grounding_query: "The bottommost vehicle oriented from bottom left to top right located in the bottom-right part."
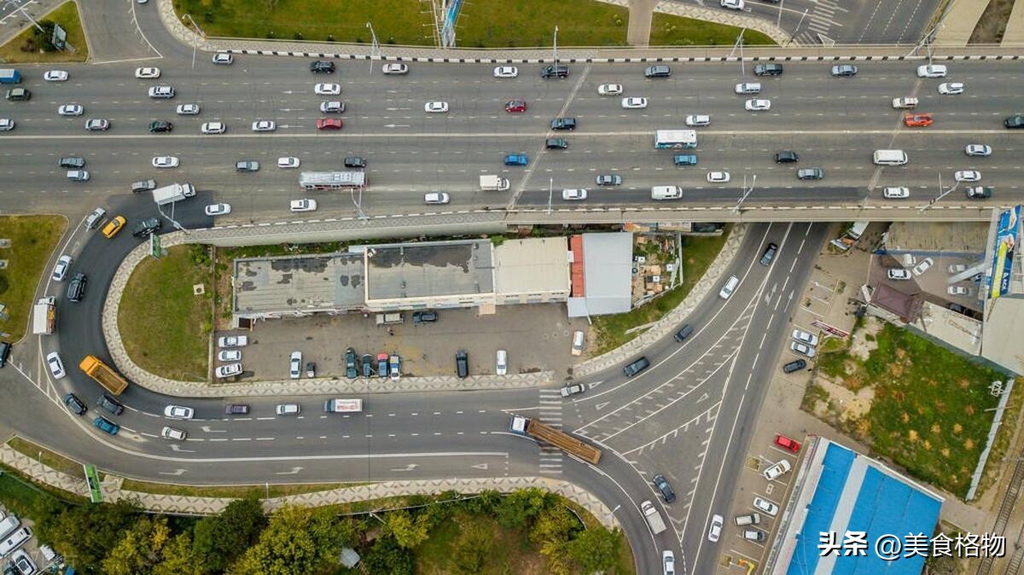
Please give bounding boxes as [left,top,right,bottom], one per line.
[762,459,791,481]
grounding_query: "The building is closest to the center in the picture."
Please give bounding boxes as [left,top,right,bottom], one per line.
[496,236,570,306]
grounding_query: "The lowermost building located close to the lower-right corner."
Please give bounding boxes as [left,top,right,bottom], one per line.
[756,436,945,575]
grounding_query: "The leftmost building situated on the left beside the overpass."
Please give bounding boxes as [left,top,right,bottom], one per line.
[234,253,374,332]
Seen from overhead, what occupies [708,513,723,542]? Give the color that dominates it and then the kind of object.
white car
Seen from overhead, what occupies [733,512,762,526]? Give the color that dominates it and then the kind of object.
white car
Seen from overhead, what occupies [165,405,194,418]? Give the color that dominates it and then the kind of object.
white vehicle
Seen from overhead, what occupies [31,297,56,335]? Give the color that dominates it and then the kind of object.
white truck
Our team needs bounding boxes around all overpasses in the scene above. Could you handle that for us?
[0,35,1024,245]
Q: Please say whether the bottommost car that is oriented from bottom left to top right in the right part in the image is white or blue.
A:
white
